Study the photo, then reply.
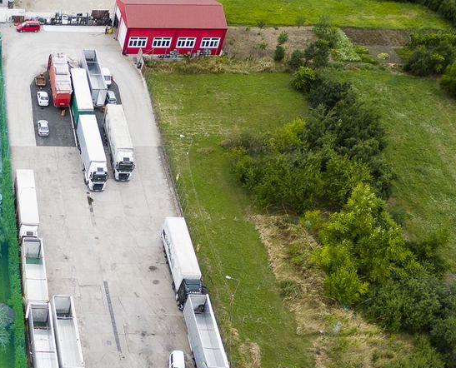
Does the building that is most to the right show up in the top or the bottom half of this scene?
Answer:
top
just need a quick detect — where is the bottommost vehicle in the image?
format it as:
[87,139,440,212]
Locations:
[165,348,184,368]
